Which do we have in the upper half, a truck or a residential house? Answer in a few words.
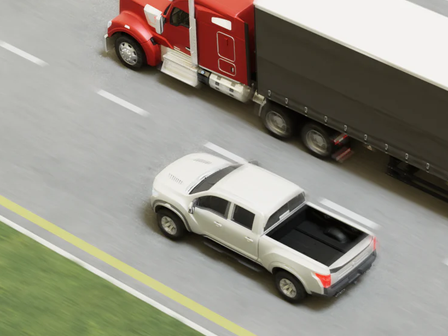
truck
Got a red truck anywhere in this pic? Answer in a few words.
Yes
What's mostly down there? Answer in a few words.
paved ground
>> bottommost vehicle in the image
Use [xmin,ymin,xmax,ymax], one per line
[147,157,381,304]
